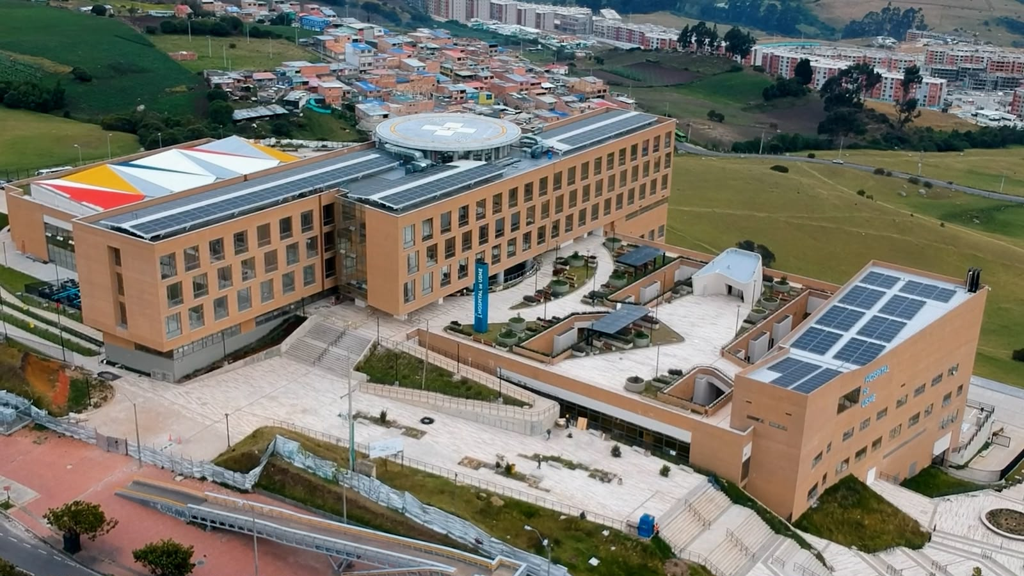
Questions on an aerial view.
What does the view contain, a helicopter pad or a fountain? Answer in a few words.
helicopter pad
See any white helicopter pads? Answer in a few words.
Yes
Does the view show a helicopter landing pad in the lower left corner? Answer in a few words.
No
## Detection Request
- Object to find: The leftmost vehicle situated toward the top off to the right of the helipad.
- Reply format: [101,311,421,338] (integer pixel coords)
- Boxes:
[673,129,701,142]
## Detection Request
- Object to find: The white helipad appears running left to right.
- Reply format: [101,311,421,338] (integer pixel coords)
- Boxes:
[372,114,522,169]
